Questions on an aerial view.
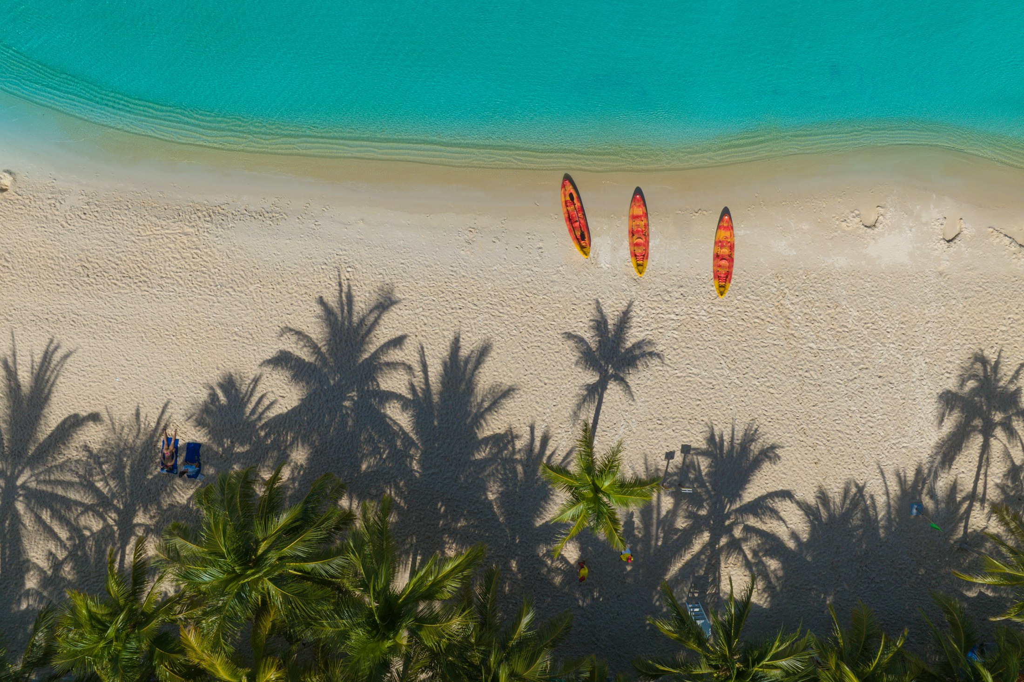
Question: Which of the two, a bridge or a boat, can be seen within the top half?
boat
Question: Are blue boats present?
No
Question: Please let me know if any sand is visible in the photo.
Yes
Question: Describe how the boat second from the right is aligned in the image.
from top to bottom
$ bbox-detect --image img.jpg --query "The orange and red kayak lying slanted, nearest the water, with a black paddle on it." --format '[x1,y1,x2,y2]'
[561,177,590,260]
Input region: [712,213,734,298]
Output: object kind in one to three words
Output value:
boat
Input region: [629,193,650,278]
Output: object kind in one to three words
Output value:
boat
